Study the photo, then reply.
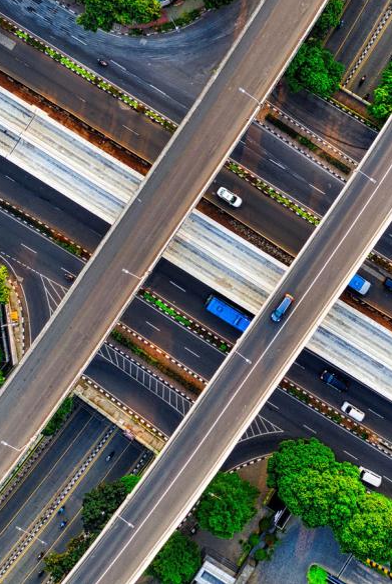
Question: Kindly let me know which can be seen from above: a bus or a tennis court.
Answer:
bus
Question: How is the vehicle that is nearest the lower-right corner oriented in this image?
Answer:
on a diagonal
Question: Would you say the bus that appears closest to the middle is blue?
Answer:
Yes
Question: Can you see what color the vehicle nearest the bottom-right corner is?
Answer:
white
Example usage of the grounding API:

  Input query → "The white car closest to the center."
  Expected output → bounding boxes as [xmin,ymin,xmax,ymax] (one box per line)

[215,186,244,209]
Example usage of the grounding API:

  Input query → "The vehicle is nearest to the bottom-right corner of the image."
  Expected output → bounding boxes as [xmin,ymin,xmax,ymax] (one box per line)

[356,466,384,489]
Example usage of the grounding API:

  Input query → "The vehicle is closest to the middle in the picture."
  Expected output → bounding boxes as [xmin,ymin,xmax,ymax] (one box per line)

[204,295,255,335]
